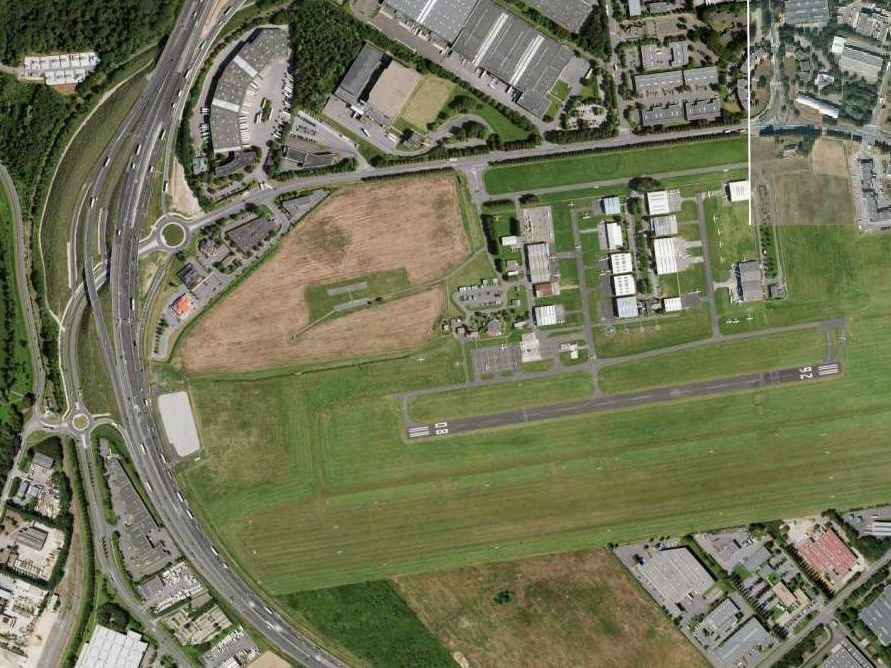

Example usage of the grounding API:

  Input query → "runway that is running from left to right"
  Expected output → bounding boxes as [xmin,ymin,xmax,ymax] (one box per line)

[406,362,840,439]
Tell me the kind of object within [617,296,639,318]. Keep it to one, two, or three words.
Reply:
hangar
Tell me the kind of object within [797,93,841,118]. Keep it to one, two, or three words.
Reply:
building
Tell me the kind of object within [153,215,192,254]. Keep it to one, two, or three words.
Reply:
roundabout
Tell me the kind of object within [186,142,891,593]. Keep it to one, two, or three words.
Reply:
airport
